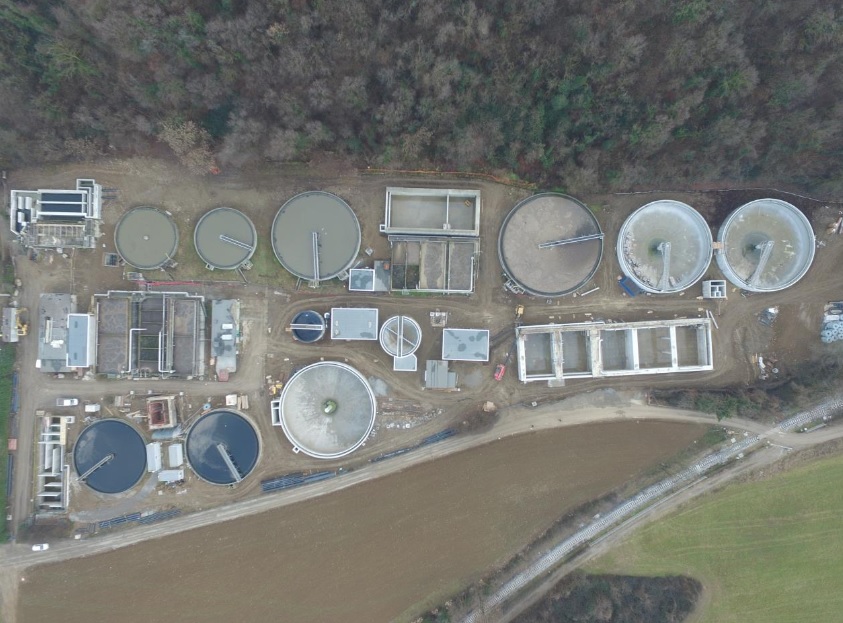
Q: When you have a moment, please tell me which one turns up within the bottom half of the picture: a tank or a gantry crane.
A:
tank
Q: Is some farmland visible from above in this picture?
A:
Yes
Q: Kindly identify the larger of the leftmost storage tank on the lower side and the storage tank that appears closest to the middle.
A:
the leftmost storage tank on the lower side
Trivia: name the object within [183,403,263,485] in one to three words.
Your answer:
storage tank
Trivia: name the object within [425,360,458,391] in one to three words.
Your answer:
shed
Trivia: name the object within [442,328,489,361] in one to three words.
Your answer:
building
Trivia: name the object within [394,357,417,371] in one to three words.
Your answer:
building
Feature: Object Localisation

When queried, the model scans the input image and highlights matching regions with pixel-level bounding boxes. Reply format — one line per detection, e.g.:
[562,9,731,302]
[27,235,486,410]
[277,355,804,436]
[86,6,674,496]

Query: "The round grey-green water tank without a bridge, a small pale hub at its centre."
[114,206,179,281]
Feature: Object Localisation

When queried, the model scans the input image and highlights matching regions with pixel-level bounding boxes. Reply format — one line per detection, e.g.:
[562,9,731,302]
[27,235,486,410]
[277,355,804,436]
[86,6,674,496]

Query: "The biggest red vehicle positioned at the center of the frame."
[492,359,506,380]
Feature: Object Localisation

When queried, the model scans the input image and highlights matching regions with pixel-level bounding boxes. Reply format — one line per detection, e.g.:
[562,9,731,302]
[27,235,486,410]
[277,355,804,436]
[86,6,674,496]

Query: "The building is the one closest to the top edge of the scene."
[349,269,375,291]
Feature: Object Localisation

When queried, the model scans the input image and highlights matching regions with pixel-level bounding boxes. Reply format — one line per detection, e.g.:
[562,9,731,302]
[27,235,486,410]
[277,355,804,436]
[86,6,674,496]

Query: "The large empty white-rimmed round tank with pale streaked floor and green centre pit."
[272,360,376,458]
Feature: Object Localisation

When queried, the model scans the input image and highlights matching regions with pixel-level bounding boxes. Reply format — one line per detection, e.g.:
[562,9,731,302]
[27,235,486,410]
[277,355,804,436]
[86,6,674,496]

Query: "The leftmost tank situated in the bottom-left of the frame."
[72,416,148,494]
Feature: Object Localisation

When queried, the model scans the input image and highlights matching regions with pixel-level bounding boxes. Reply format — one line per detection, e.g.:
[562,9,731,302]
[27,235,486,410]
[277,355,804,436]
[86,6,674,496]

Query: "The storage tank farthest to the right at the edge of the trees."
[715,198,816,293]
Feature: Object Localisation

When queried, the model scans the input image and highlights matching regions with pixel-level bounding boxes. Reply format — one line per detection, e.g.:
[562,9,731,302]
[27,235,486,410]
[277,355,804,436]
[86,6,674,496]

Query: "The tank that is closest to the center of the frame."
[380,315,422,357]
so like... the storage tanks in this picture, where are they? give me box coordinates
[380,315,422,357]
[614,198,712,294]
[272,360,376,458]
[497,192,605,297]
[183,403,263,485]
[286,309,326,343]
[715,198,816,293]
[114,206,179,281]
[194,207,258,283]
[272,191,361,291]
[72,416,148,494]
